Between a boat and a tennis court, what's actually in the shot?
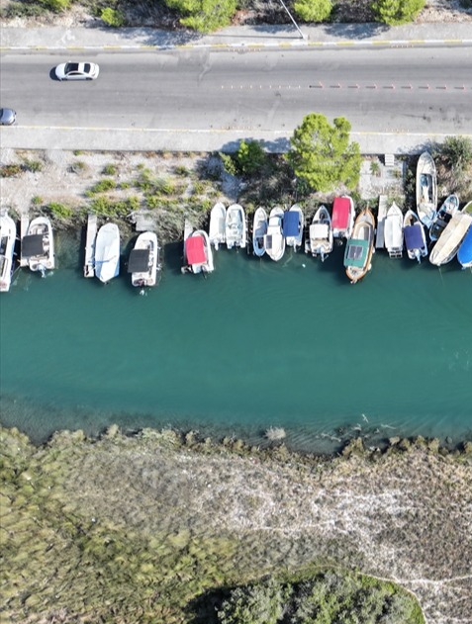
boat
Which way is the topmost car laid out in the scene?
from left to right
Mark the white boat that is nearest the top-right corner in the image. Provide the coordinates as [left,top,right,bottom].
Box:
[417,159,438,230]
